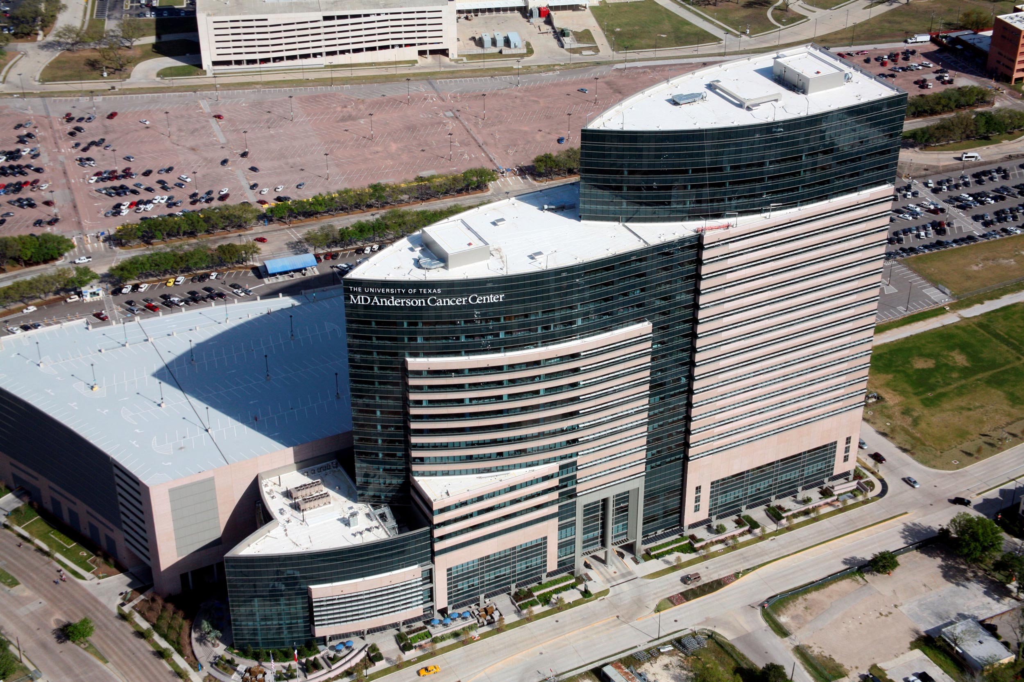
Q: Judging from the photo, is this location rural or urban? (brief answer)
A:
urban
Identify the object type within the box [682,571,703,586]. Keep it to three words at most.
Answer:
vehicle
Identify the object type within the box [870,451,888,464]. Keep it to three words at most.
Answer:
vehicle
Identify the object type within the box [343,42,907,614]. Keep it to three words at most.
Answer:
building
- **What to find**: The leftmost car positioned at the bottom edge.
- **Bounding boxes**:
[420,666,440,678]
